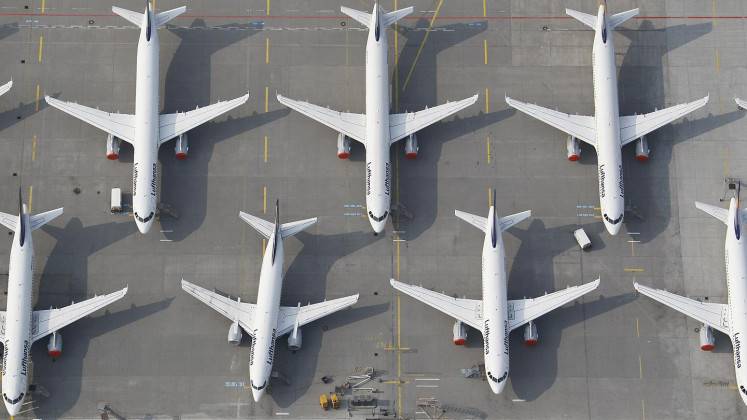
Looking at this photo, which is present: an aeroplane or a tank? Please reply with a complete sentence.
The one in the frame is an aeroplane.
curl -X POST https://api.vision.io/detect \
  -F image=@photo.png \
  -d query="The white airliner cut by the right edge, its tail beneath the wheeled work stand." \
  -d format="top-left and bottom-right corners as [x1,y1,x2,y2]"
[633,182,747,411]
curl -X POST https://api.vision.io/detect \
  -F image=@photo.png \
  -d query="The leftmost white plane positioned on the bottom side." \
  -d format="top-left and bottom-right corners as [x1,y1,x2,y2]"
[0,187,126,416]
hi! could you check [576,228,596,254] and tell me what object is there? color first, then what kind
white vehicle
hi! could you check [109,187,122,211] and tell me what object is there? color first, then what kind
white vehicle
